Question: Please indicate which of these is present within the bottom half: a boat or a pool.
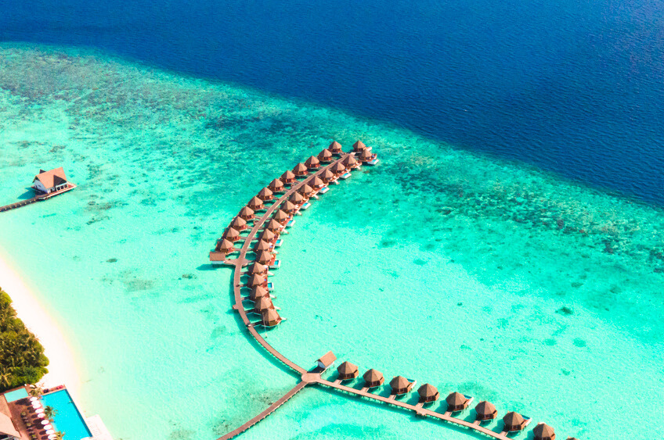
pool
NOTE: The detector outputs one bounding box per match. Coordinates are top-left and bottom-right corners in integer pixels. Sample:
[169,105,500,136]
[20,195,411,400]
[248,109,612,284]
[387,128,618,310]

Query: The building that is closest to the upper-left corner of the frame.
[33,167,83,201]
